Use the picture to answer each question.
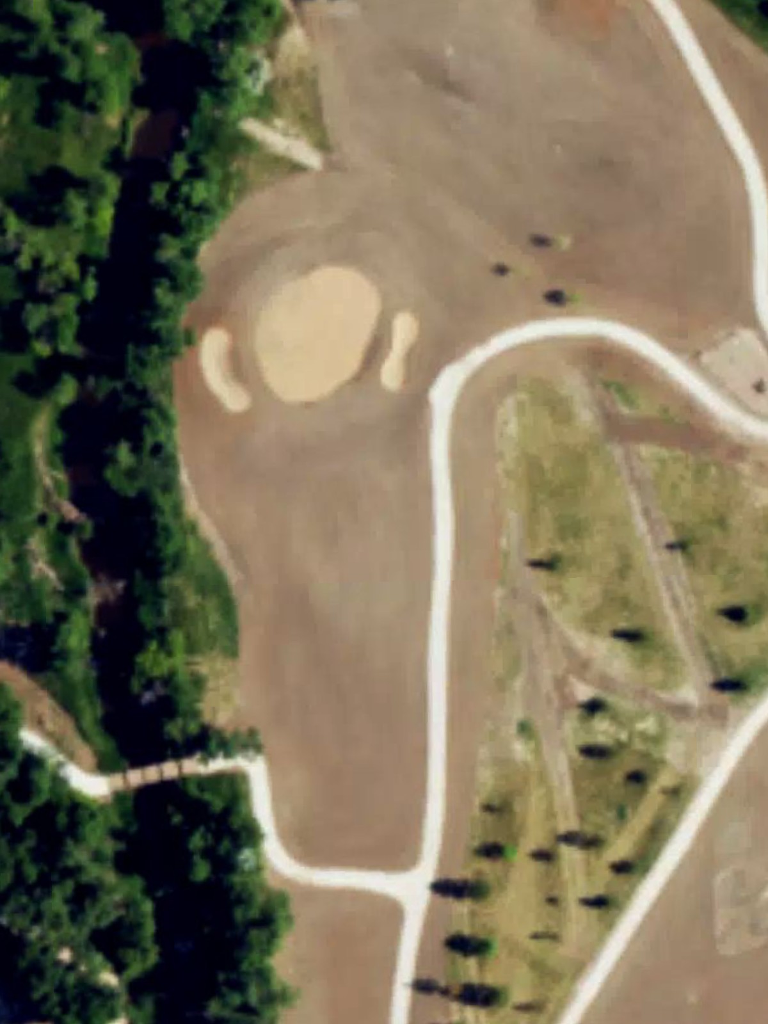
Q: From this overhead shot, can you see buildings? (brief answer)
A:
No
